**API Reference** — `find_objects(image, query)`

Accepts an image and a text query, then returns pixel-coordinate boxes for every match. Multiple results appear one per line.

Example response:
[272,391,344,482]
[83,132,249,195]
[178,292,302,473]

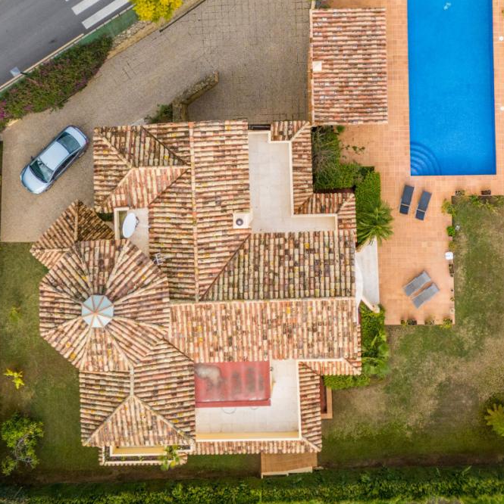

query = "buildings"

[30,117,380,469]
[309,7,389,125]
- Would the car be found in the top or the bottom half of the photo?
top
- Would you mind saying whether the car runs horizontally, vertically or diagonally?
diagonally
